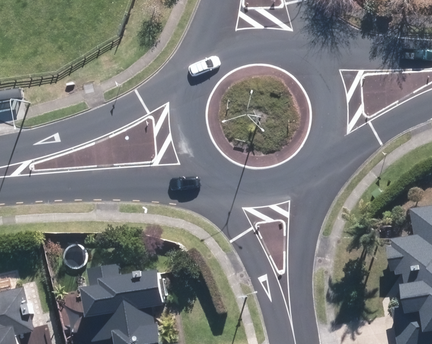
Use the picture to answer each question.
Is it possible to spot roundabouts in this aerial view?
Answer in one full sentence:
Yes, I can see a roundabout in this picture.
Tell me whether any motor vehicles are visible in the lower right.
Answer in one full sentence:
No, no motor vehicle is visible in the lower right.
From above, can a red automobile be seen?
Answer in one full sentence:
No, the picture doesn't show any red automobile.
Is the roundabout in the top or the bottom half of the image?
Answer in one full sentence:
The roundabout sits in the top half of the picture.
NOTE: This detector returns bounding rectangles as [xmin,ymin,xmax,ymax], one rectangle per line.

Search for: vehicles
[402,46,432,62]
[186,56,222,76]
[168,178,200,194]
